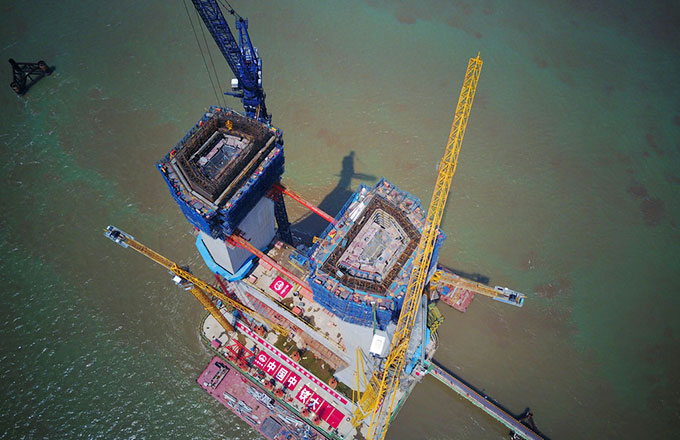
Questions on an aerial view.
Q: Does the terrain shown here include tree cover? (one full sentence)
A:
No, the scene doesn't show any tree cover.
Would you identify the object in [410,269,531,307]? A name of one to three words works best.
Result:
crane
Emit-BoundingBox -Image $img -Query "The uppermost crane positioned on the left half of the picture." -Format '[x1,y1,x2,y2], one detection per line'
[184,0,292,246]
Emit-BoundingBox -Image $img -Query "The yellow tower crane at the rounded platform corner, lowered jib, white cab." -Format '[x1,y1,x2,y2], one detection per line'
[96,223,290,338]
